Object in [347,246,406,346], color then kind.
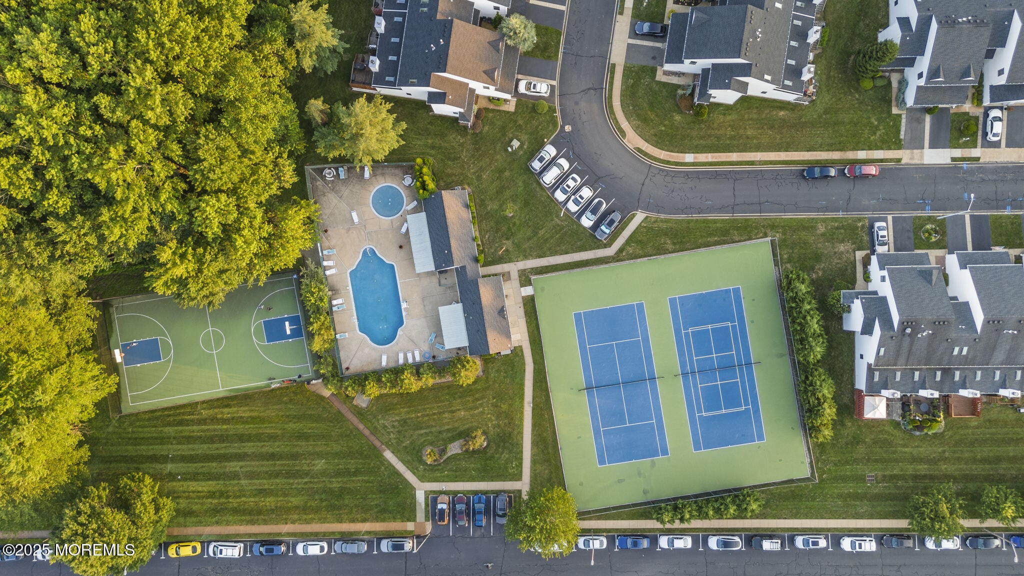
blue swimming pool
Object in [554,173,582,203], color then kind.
white car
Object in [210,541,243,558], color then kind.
white car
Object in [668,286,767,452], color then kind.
blue tennis court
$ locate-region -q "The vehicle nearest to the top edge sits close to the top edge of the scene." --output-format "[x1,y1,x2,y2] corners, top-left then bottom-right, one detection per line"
[634,20,667,37]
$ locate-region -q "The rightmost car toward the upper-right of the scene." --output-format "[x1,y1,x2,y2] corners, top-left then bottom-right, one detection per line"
[985,109,1004,142]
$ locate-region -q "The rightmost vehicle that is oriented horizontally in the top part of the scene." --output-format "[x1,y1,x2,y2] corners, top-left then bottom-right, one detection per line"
[845,163,878,178]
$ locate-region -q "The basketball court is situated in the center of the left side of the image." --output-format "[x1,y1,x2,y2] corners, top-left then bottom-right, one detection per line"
[105,274,314,415]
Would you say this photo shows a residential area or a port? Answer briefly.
residential area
